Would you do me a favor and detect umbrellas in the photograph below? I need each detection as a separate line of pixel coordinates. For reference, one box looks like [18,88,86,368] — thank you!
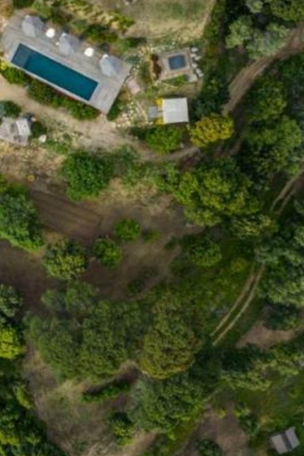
[56,33,78,53]
[96,52,120,74]
[21,15,42,37]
